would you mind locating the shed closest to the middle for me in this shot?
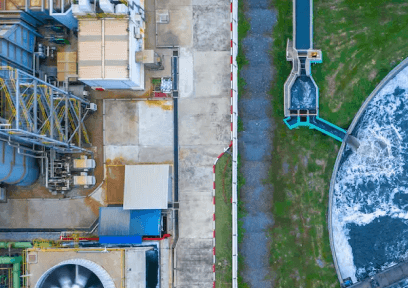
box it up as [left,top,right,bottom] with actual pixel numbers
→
[123,164,175,209]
